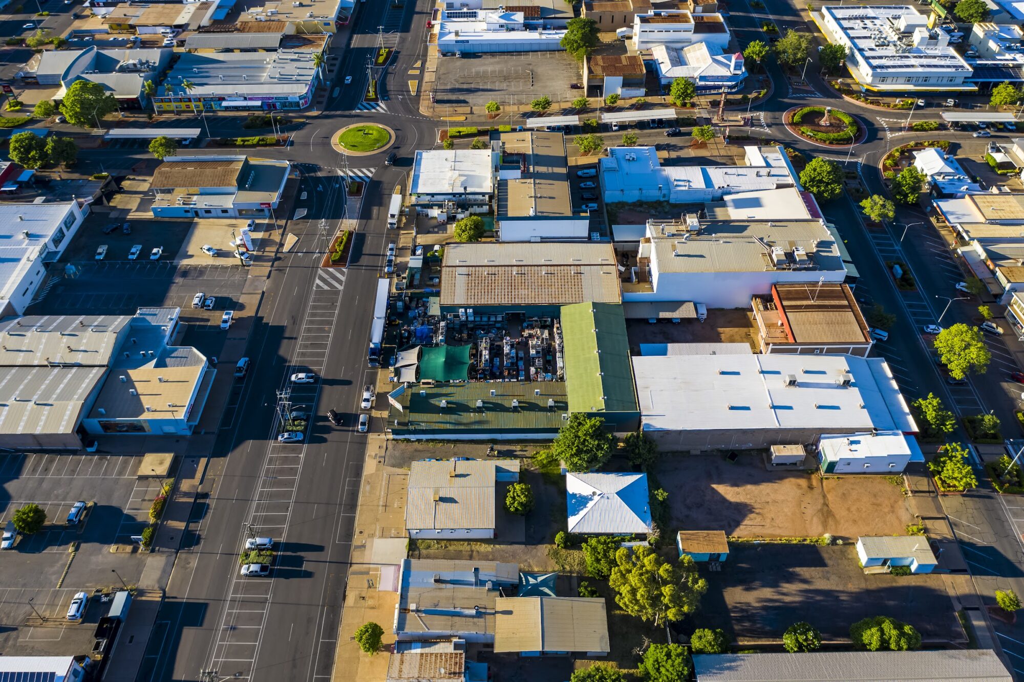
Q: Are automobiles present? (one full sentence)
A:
Yes, the photo shows an automobile.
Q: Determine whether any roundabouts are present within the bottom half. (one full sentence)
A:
No, there is no roundabout within the bottom half.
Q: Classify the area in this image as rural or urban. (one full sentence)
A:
It looks urban.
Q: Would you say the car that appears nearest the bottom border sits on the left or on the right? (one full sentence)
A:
It is on the left.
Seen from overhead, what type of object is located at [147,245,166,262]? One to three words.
vehicle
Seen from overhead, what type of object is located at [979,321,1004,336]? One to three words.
car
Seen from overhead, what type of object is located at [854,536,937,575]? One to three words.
shed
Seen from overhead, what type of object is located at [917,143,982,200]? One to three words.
building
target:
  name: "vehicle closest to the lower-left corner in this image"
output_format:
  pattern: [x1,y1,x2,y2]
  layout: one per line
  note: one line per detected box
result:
[63,592,91,622]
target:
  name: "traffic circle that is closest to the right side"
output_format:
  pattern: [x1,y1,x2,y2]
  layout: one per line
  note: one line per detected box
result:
[782,104,870,149]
